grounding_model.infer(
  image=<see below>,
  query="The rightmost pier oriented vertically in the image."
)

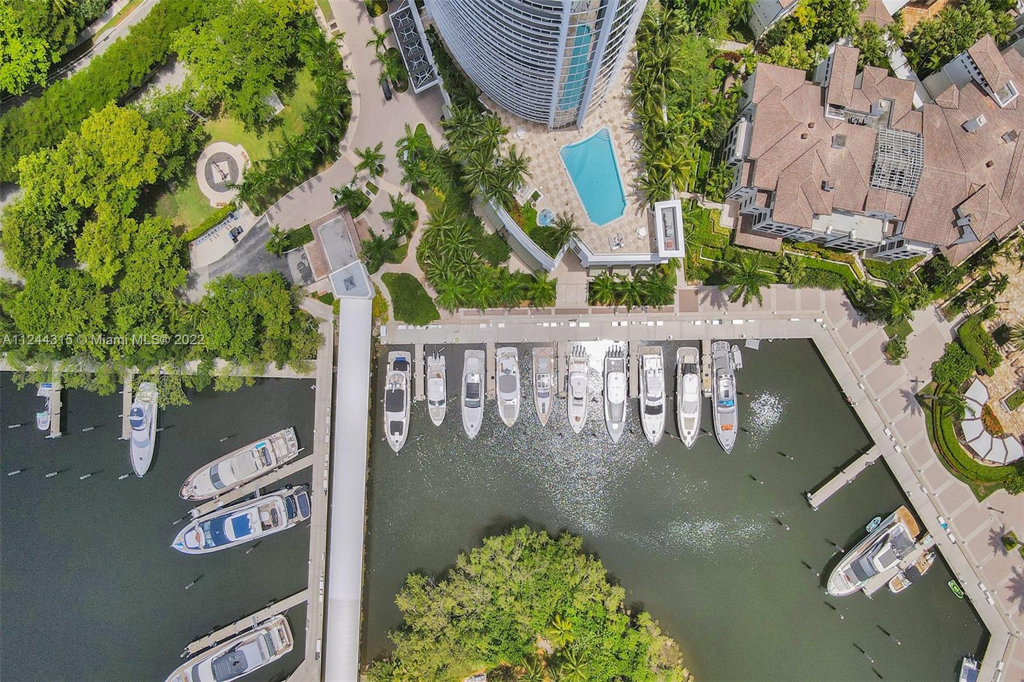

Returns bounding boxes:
[699,341,712,394]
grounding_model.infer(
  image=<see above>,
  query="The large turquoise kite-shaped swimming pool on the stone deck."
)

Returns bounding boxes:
[560,127,627,227]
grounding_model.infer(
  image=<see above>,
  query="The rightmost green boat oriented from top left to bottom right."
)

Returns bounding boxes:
[947,580,964,599]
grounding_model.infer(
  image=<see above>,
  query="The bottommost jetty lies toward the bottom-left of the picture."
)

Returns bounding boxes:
[188,587,307,655]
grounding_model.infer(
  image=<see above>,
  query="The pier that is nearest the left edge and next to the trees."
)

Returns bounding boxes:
[48,372,67,436]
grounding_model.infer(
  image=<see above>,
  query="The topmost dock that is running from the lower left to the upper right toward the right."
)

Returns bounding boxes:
[809,445,882,508]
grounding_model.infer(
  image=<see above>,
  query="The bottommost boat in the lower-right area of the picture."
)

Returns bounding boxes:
[956,651,977,682]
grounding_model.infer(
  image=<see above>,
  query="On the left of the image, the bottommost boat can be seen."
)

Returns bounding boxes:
[167,614,294,682]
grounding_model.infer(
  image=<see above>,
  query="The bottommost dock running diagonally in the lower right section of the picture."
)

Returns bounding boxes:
[863,535,936,596]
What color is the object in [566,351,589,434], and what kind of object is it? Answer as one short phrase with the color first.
white boat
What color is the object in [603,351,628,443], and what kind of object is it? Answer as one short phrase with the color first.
white boat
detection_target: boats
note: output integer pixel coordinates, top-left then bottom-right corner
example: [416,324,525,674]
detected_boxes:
[168,484,311,550]
[566,351,589,434]
[947,580,964,599]
[461,350,486,438]
[710,342,742,455]
[673,348,705,450]
[496,348,521,427]
[956,651,977,682]
[428,355,446,426]
[637,346,667,445]
[865,517,882,531]
[889,550,936,592]
[731,345,744,374]
[123,382,163,478]
[824,504,920,596]
[167,614,294,682]
[177,427,305,500]
[386,351,414,455]
[36,383,52,431]
[603,351,628,443]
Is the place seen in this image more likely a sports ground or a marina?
marina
